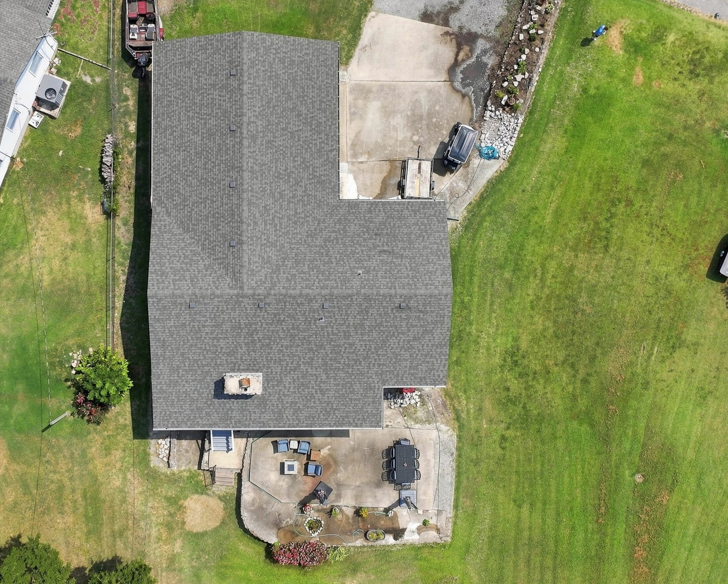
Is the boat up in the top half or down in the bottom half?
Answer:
top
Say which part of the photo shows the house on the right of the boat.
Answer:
center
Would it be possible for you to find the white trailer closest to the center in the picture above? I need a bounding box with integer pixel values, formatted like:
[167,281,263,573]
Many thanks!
[401,145,436,197]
